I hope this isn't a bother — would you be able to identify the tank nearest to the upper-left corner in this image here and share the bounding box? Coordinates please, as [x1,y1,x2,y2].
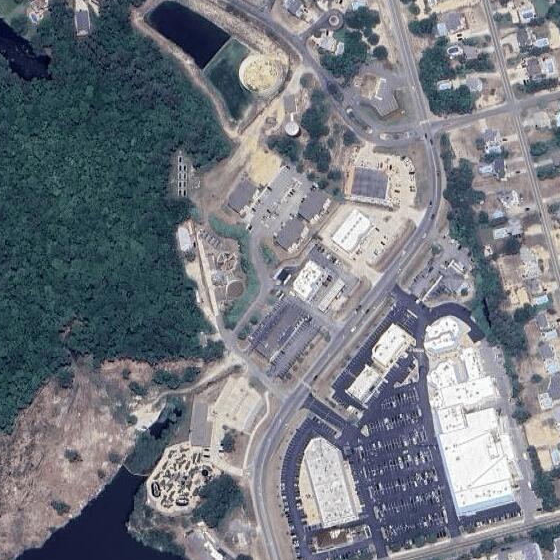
[239,51,288,95]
